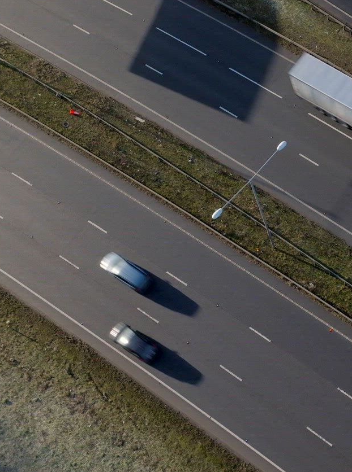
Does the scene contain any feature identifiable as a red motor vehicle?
No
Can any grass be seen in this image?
Yes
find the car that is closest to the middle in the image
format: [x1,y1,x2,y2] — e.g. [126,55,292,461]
[102,254,153,294]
